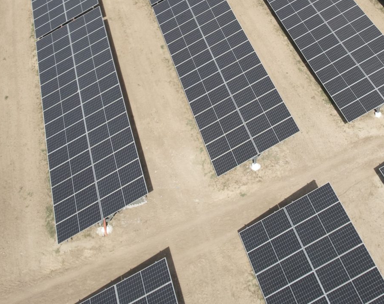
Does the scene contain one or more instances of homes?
No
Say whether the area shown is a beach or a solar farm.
solar farm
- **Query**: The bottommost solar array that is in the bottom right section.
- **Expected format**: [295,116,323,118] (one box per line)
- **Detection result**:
[239,183,384,304]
